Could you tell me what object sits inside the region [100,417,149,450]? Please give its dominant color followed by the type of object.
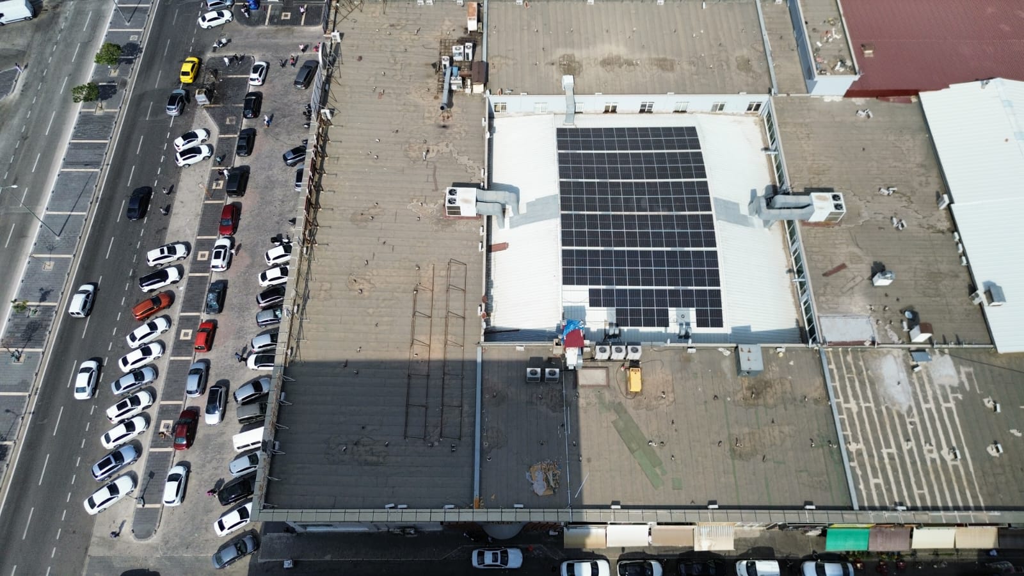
white car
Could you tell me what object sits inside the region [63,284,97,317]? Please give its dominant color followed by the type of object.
white van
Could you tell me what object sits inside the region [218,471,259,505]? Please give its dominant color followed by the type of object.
black car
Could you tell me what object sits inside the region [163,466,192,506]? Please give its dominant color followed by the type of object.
white car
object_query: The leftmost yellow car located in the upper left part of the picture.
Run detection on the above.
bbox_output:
[177,57,200,83]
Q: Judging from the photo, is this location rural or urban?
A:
urban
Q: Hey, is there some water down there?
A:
No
